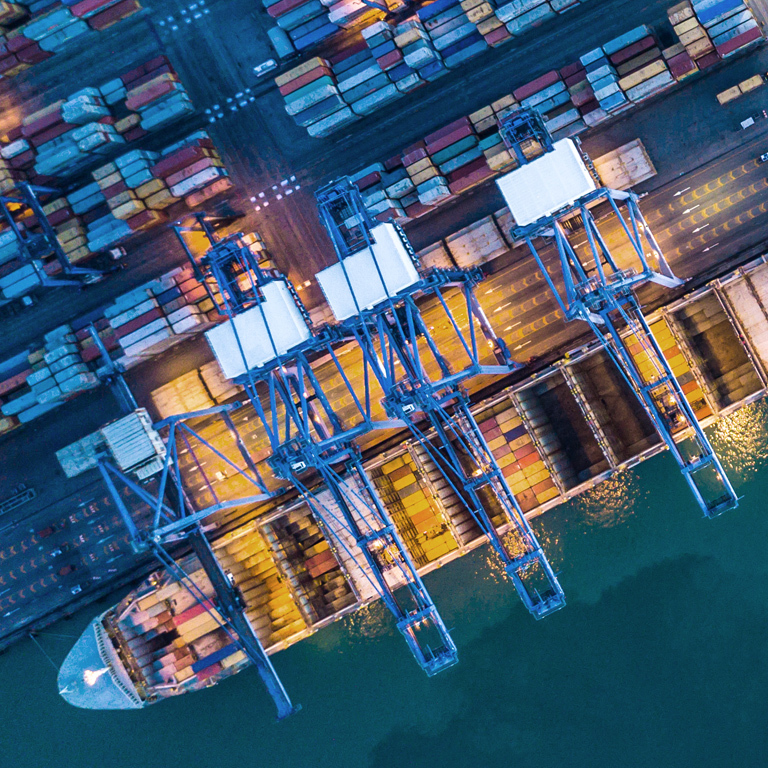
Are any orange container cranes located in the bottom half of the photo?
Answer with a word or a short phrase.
No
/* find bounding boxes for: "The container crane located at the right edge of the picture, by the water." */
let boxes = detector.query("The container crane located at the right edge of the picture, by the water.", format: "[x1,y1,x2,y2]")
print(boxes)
[489,99,746,530]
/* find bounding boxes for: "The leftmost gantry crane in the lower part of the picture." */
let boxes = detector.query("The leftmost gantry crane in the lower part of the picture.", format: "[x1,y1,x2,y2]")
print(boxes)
[82,323,308,722]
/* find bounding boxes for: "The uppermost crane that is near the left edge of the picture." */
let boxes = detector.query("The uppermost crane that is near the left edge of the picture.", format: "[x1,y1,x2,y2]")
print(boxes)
[0,184,111,290]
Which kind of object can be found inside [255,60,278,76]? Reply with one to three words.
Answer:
vehicle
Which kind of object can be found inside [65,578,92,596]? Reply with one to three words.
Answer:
vehicle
